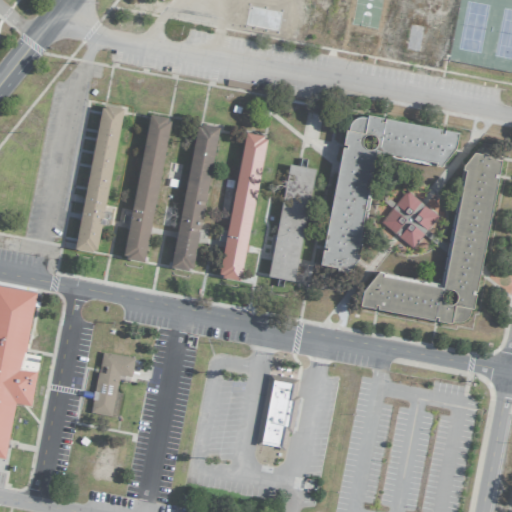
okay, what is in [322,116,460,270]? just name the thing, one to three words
building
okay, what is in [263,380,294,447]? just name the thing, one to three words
building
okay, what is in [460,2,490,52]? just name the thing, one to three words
tennis court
